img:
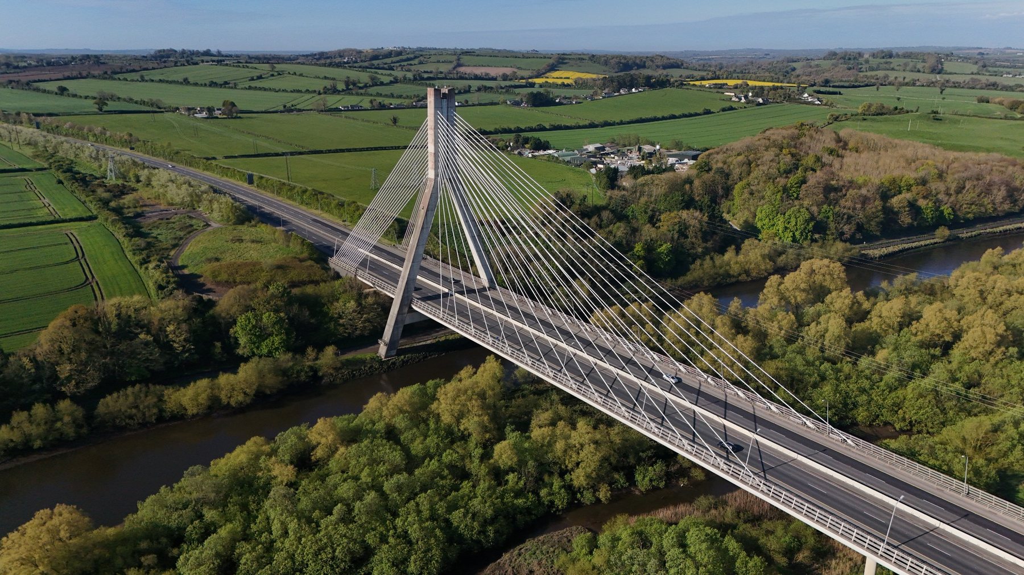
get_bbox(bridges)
[333,79,1024,575]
